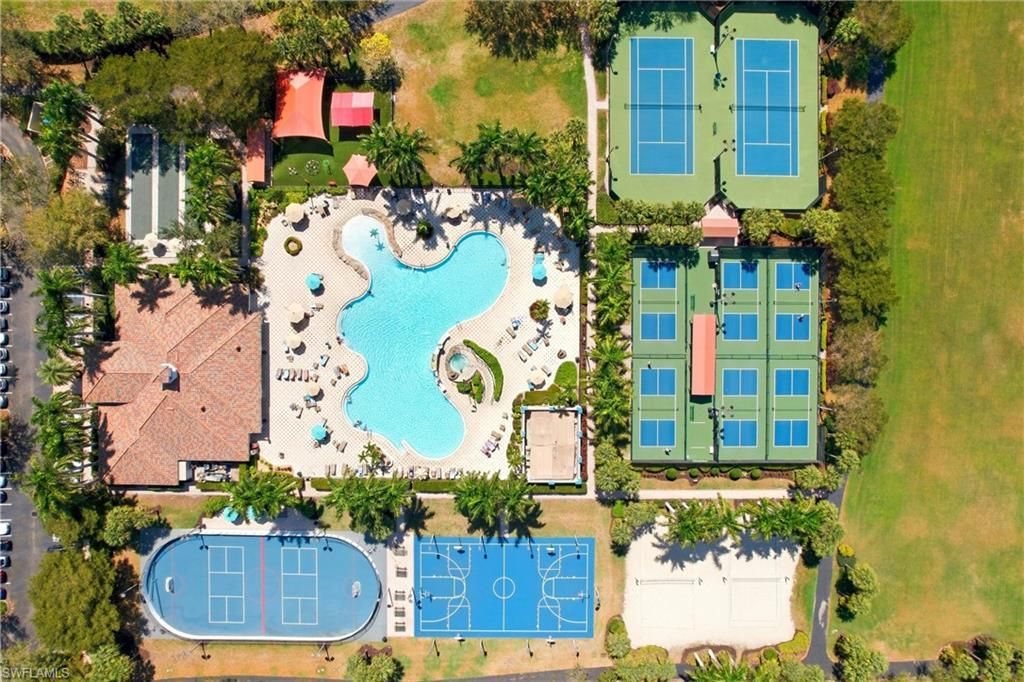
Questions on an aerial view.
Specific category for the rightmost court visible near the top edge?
tennis court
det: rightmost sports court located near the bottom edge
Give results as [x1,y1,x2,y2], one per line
[623,518,802,654]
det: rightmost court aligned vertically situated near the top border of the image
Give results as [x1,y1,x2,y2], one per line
[718,5,819,209]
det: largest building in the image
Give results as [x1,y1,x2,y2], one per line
[81,283,265,485]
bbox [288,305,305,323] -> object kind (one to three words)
umbrella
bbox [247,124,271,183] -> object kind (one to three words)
shed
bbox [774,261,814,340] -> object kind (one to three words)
sports court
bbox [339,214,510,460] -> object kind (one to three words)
swimming pool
